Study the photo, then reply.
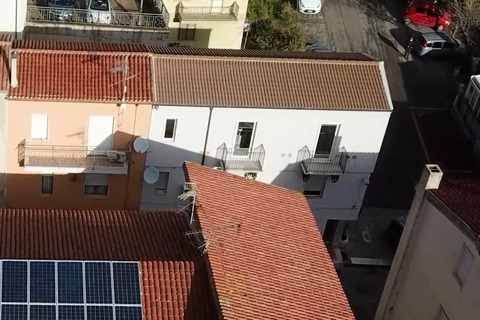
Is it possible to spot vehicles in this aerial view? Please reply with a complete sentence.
Yes, a vehicle appears in the view.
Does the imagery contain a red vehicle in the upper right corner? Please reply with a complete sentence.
Yes, in the upper right corner there is a red vehicle.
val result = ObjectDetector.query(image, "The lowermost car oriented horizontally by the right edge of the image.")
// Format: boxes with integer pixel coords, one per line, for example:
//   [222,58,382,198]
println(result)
[413,29,475,58]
